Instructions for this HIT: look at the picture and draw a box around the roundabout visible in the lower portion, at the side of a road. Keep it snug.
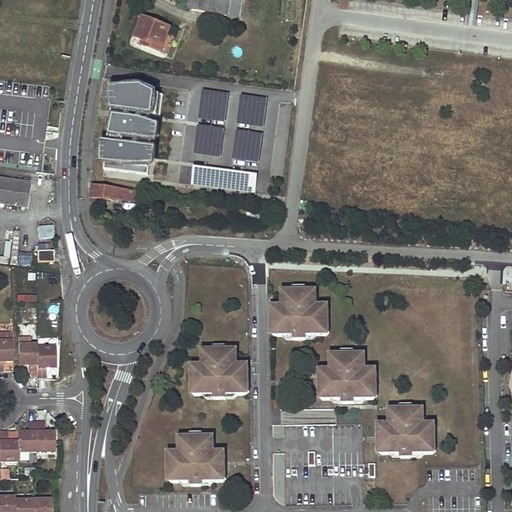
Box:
[66,259,170,363]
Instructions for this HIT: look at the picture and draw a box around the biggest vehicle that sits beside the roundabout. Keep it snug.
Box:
[66,230,80,275]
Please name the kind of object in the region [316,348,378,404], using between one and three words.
building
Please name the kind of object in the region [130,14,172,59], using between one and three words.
house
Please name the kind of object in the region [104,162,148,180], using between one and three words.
building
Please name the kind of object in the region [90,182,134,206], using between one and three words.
house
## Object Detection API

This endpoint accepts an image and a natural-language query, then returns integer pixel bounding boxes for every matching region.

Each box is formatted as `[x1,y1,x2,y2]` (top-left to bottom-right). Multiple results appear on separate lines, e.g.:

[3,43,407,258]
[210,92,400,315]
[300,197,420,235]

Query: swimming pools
[46,304,60,315]
[232,46,243,59]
